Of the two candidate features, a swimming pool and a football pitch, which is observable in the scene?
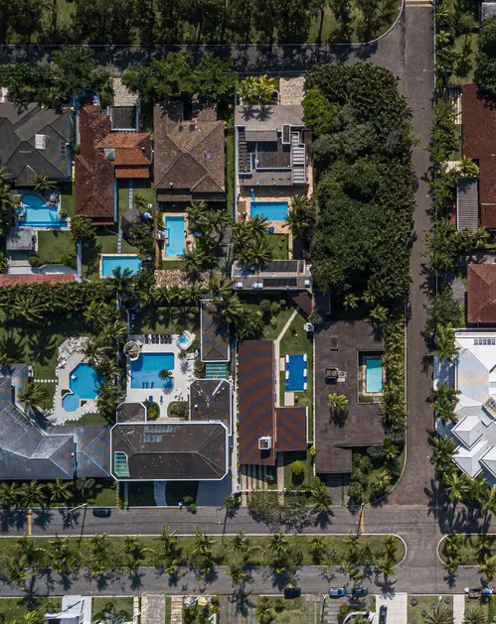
swimming pool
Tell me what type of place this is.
residential area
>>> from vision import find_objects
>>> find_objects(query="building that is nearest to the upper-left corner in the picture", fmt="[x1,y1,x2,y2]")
[0,101,75,186]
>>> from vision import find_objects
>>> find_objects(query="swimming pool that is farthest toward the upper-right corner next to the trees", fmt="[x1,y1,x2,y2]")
[247,199,290,223]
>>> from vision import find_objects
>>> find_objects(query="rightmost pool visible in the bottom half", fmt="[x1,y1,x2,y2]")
[363,355,385,397]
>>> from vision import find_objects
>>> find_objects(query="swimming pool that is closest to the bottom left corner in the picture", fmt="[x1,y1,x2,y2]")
[61,394,81,413]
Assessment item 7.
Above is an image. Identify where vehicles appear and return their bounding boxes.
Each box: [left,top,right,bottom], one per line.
[462,587,481,597]
[283,588,301,597]
[479,587,495,595]
[378,607,387,624]
[92,507,110,515]
[328,587,346,595]
[352,587,369,595]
